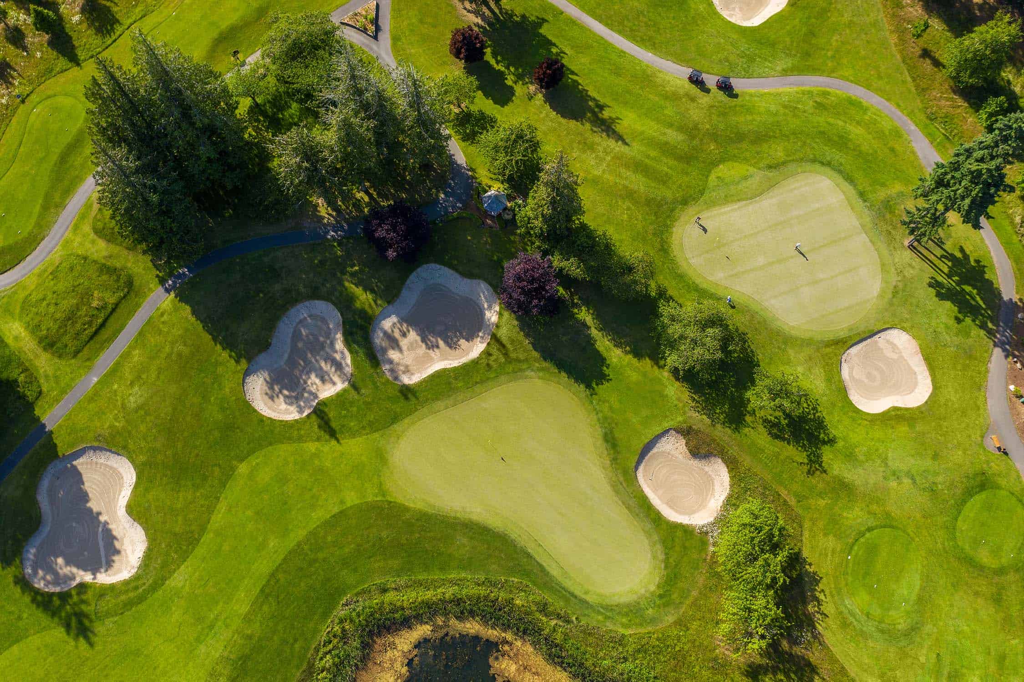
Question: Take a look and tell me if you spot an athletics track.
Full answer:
No, there appears to be no athletics track in this shot.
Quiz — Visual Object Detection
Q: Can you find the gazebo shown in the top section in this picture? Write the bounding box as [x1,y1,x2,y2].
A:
[481,192,507,221]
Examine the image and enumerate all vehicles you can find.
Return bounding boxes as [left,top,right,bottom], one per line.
[716,75,734,91]
[687,69,705,86]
